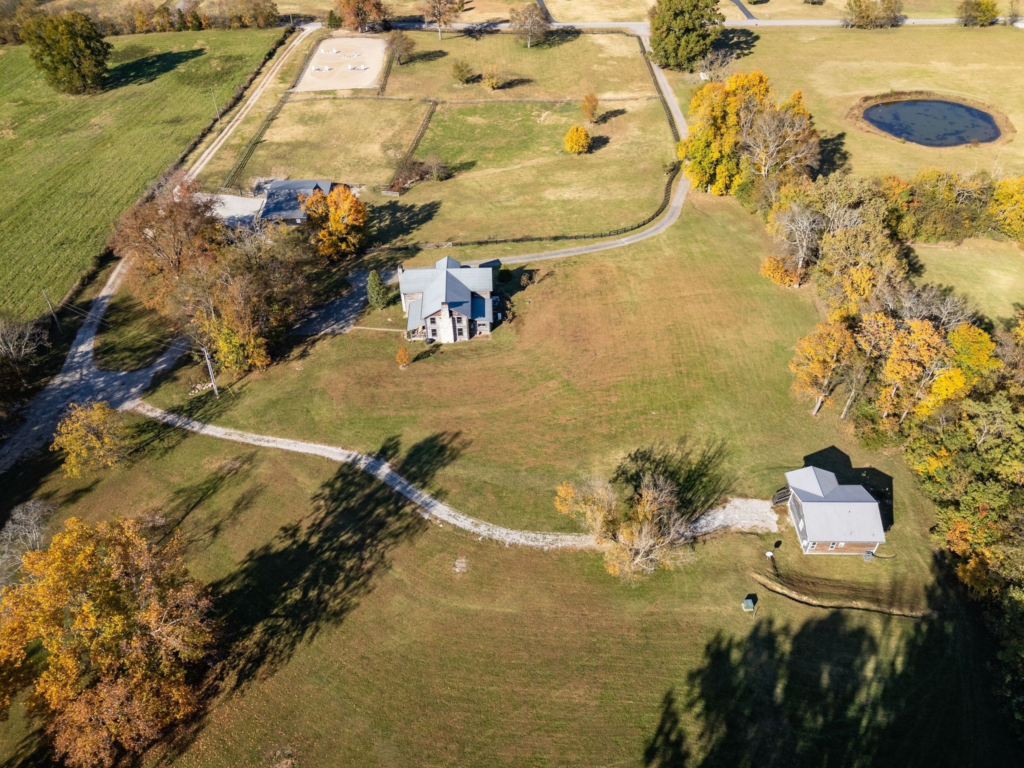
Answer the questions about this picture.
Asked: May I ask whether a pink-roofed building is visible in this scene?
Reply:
No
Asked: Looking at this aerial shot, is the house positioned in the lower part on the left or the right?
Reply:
right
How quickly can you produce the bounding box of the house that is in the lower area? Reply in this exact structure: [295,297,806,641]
[757,462,887,557]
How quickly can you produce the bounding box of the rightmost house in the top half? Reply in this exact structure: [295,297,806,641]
[400,257,493,343]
